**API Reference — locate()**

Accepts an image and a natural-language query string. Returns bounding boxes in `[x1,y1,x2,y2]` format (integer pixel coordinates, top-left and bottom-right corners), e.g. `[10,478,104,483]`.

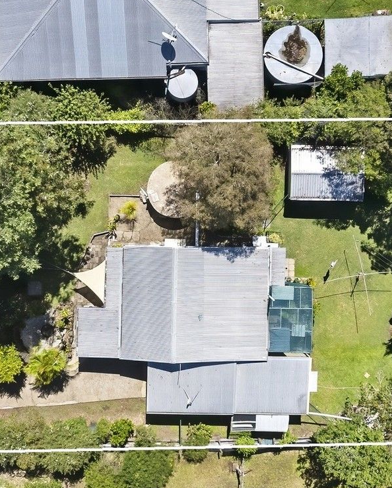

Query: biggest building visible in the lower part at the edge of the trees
[75,237,318,434]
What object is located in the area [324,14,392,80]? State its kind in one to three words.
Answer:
shed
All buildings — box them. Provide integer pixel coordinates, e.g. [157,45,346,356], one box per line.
[324,14,392,80]
[288,145,365,203]
[75,237,318,434]
[0,0,264,109]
